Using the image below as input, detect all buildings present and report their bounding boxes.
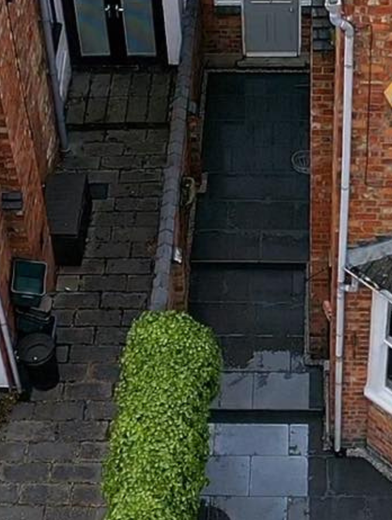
[305,0,392,471]
[0,0,185,390]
